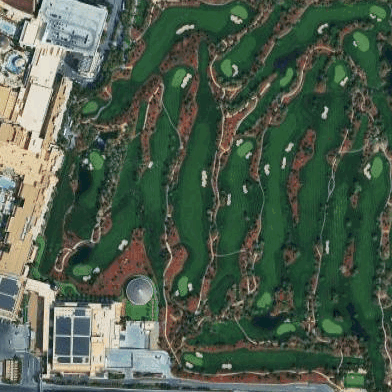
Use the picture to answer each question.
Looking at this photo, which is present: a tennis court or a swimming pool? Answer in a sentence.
This aerial view contains a swimming pool.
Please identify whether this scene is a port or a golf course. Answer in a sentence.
What you see here is a golf course.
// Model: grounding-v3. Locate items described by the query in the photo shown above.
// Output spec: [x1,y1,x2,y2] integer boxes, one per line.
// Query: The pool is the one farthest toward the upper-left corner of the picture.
[0,18,16,36]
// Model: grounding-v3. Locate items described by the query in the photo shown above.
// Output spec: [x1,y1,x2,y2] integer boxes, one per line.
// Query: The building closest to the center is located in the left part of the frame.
[127,280,153,307]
